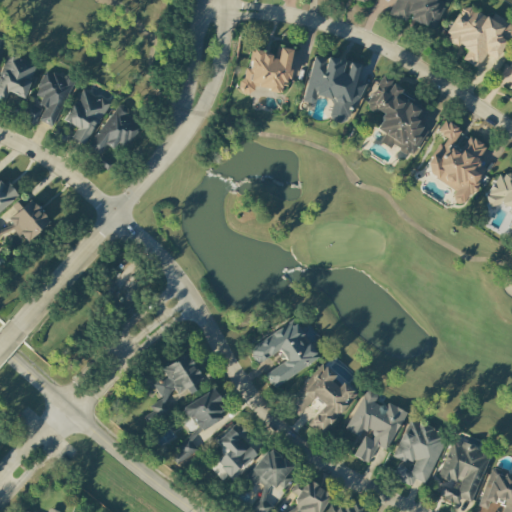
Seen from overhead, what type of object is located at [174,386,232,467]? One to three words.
house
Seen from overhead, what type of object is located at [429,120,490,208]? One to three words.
house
